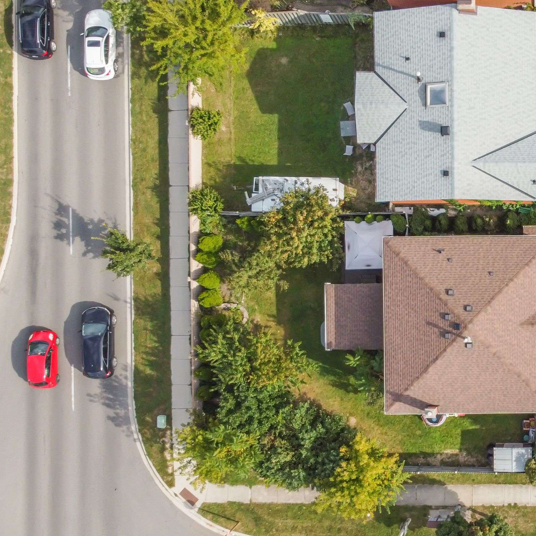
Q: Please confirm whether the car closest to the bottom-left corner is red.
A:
Yes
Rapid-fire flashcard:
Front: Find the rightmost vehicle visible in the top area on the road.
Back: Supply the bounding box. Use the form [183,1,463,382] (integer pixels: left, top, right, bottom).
[82,13,118,81]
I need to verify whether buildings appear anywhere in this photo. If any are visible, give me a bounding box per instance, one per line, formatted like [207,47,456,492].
[354,0,536,205]
[493,445,531,473]
[324,225,536,415]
